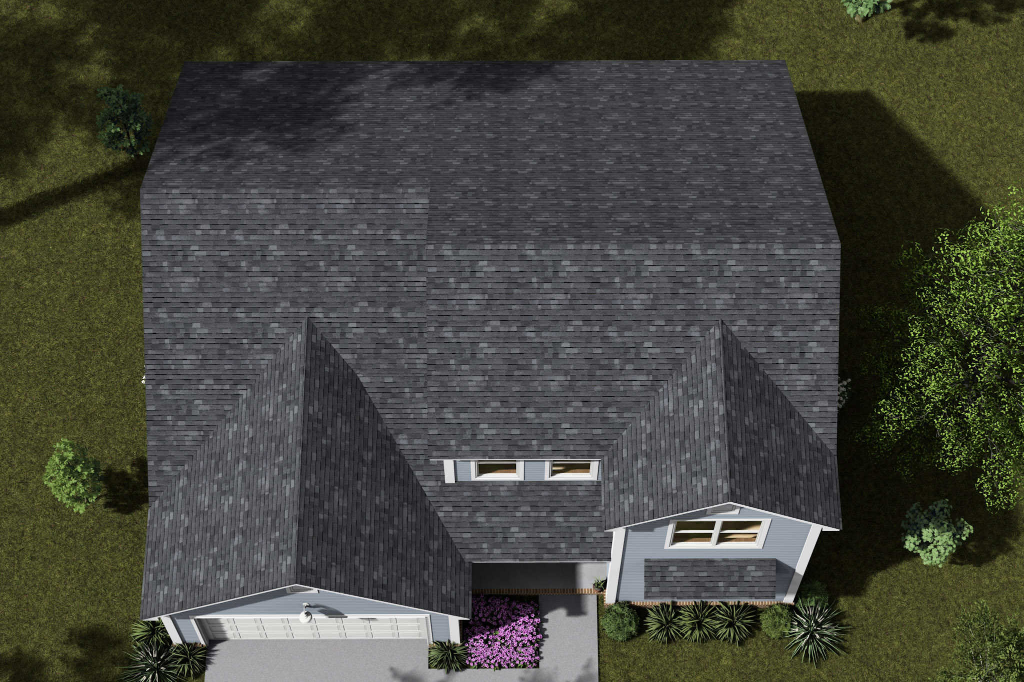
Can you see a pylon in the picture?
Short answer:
No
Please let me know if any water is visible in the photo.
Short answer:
No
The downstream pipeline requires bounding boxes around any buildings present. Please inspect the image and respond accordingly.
[140,59,842,649]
